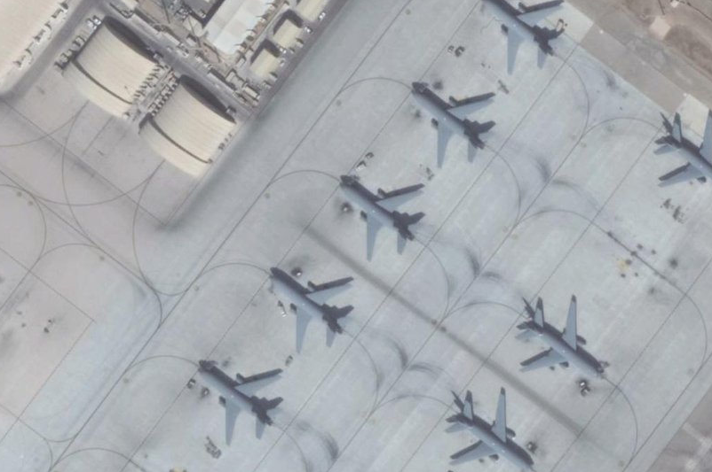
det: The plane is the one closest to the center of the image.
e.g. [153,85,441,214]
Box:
[341,183,424,264]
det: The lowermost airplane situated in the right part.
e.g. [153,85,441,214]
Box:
[445,391,532,472]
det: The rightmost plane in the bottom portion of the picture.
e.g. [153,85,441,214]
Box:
[516,296,603,376]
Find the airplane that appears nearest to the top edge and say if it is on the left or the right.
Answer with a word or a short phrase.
right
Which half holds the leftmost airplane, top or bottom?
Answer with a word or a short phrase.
bottom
